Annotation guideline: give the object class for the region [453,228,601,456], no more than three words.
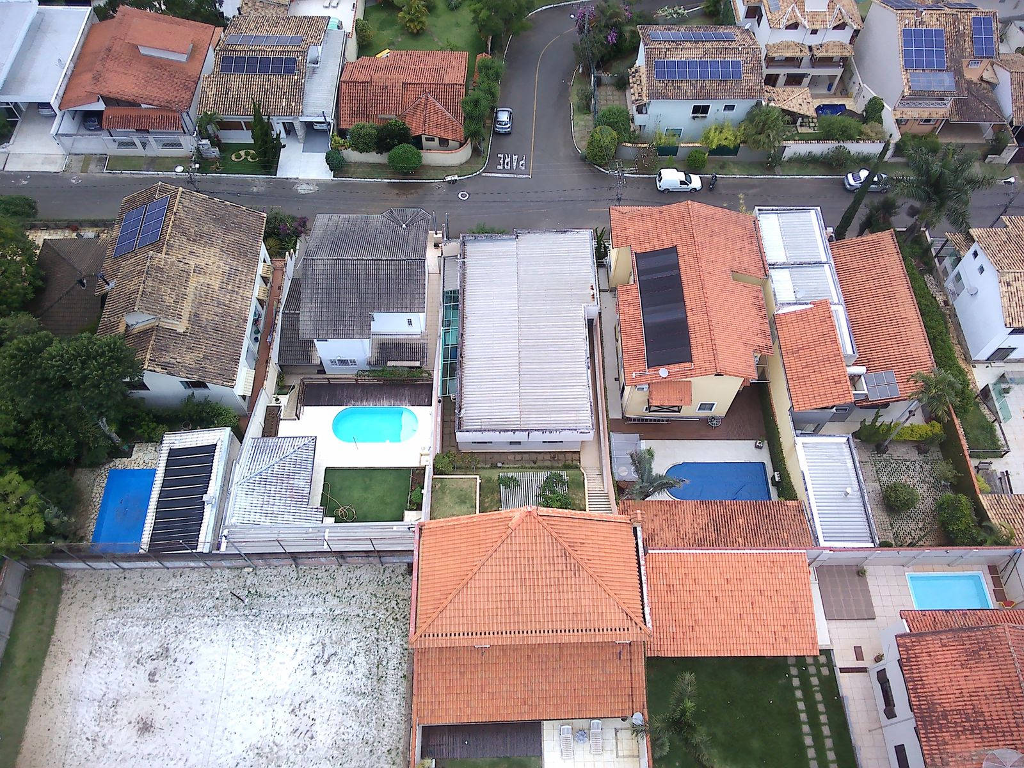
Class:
building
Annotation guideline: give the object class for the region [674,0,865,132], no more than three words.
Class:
house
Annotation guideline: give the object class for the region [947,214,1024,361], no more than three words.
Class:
house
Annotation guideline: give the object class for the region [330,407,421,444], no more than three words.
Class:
swimming pool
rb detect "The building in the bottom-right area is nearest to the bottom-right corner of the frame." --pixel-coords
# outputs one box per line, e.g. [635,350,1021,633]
[871,608,1024,768]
